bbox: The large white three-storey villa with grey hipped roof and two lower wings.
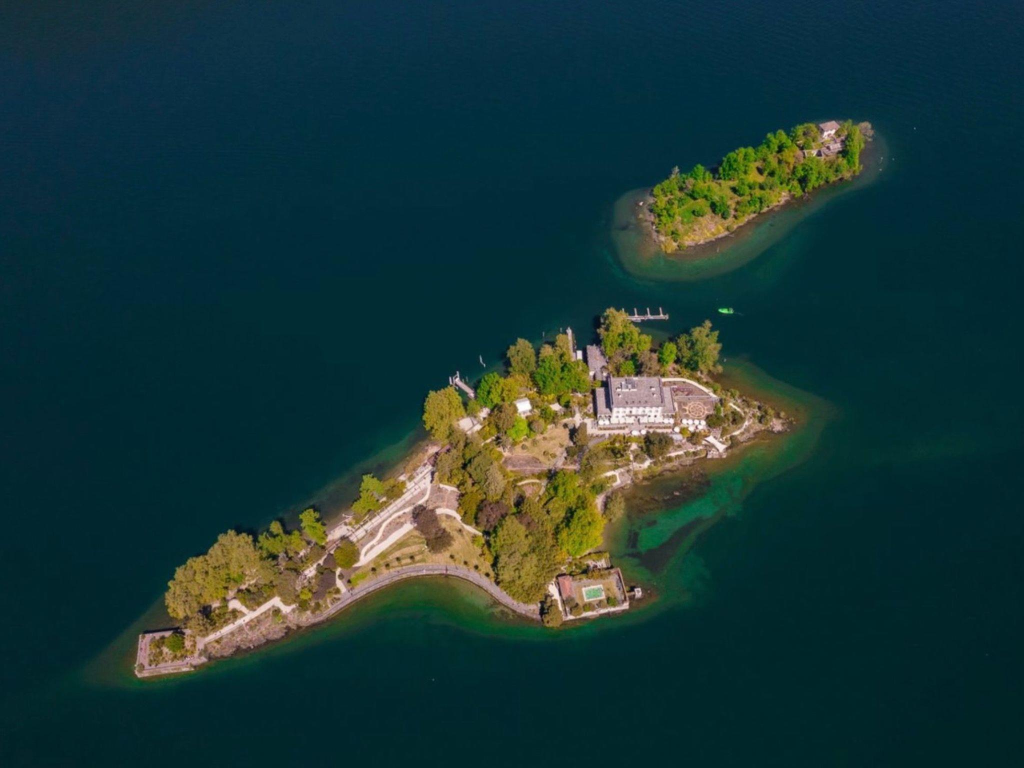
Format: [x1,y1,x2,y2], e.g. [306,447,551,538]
[596,375,676,423]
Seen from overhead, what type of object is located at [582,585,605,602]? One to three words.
swimming pool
